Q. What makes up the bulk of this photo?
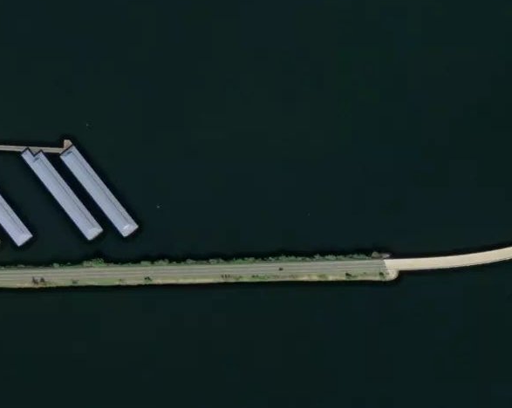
water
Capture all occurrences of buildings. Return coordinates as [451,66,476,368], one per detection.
[0,195,33,246]
[60,145,139,237]
[24,149,103,241]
